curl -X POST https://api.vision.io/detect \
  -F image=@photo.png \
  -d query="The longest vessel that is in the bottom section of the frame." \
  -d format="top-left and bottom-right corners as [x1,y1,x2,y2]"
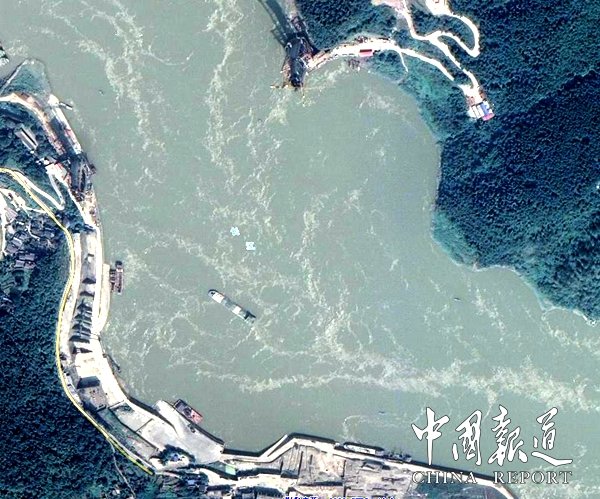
[208,289,256,323]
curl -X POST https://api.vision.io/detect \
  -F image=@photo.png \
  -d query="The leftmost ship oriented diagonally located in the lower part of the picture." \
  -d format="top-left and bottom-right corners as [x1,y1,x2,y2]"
[174,397,205,425]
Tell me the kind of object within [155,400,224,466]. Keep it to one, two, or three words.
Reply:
pier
